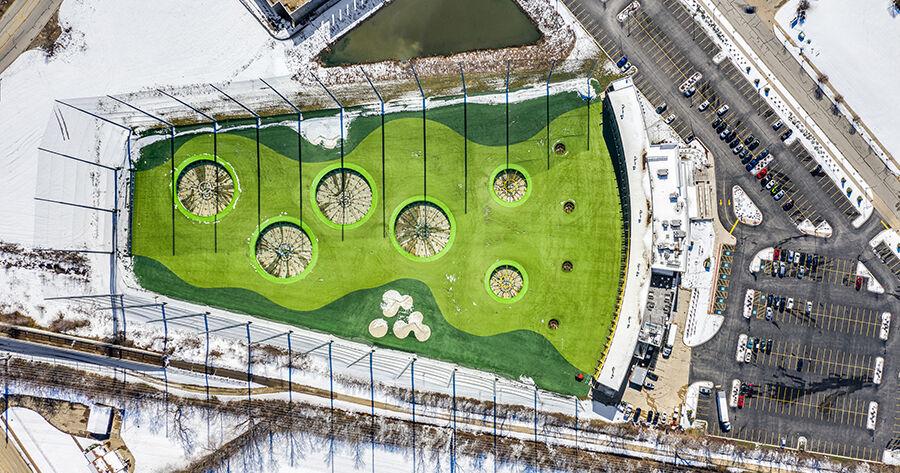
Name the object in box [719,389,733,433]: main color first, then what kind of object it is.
white vehicle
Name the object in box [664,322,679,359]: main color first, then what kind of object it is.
white vehicle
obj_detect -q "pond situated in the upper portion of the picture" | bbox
[318,0,541,67]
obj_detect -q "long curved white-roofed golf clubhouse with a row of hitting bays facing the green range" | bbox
[590,78,691,405]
